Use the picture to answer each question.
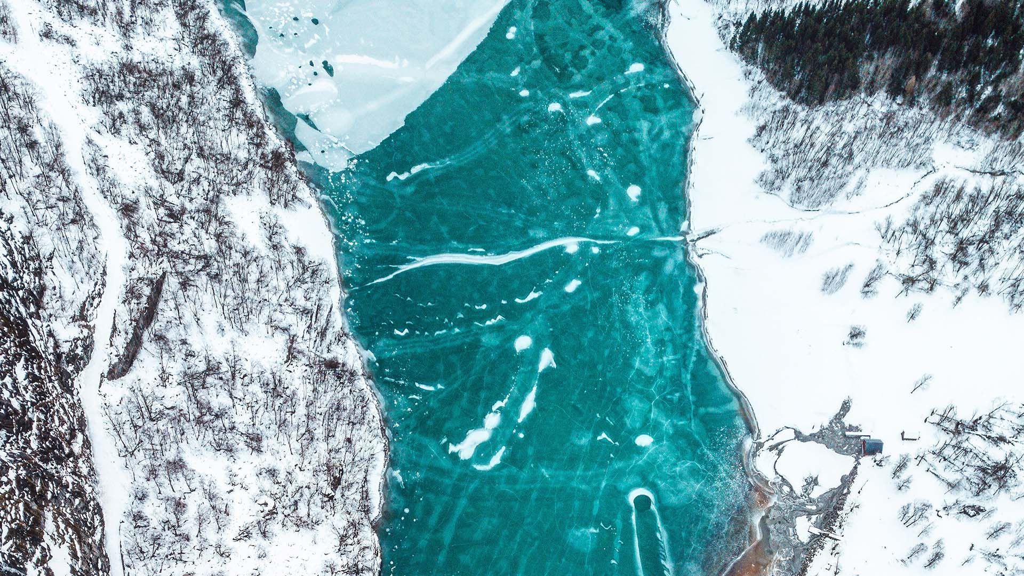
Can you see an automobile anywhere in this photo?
No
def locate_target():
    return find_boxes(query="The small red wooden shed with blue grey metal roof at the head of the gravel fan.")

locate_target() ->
[861,438,887,457]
